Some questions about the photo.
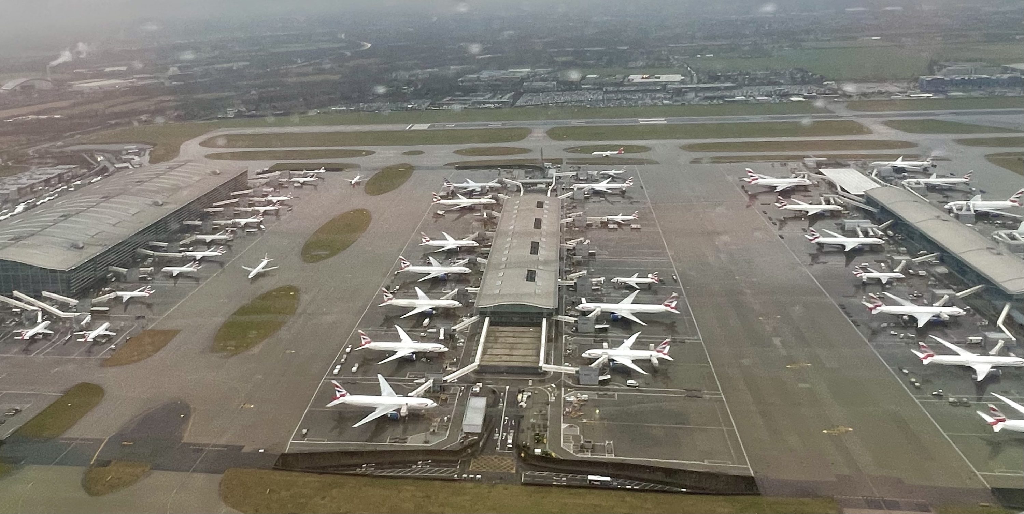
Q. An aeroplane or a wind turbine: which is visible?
aeroplane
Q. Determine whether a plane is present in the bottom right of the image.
Yes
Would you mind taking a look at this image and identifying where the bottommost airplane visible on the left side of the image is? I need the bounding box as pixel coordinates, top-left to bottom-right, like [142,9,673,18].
[327,375,437,430]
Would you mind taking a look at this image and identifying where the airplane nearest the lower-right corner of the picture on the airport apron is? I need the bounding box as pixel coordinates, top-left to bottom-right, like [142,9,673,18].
[979,392,1024,432]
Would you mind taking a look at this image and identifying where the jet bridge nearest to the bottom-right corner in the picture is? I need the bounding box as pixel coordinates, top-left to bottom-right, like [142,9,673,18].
[986,340,1005,357]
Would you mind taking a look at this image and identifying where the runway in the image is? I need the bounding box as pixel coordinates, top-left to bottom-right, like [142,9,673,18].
[398,108,1024,130]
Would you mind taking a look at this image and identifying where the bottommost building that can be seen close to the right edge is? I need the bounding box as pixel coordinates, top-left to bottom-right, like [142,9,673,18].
[981,331,1014,352]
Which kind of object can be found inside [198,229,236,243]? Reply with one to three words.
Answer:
airplane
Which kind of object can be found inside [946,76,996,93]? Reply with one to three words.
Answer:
building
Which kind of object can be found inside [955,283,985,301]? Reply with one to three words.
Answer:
jet bridge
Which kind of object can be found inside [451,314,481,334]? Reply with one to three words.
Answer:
jet bridge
